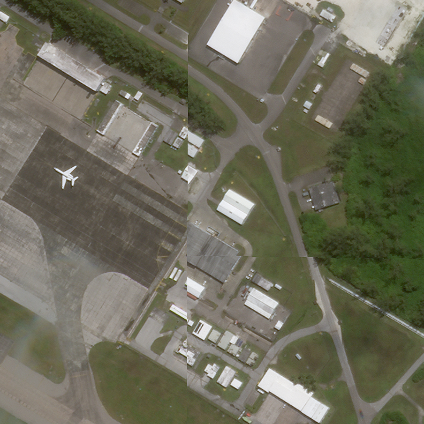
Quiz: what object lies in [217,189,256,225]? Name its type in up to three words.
building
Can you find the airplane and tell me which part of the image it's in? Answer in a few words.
left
